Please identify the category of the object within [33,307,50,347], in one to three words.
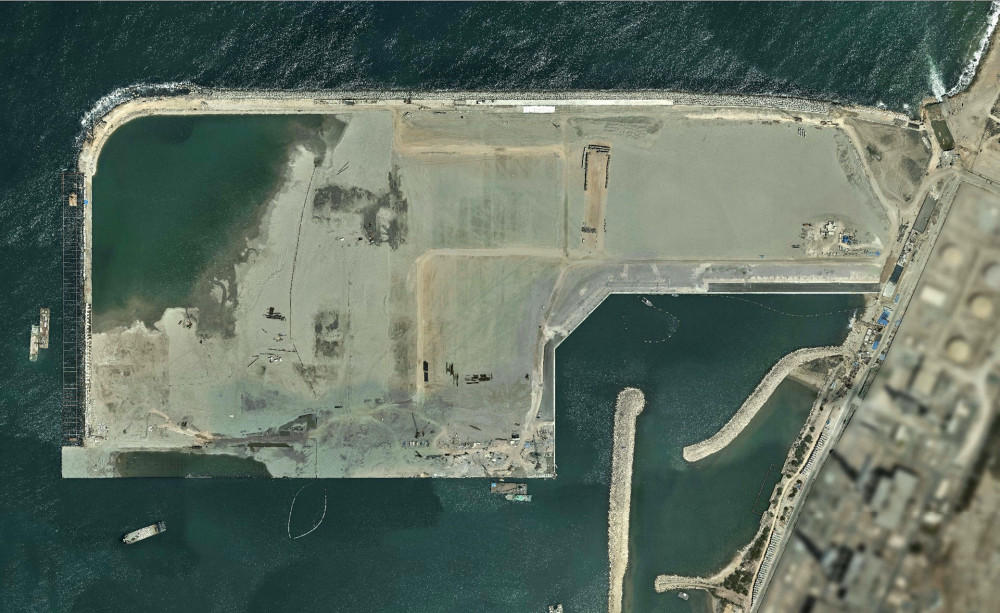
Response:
ship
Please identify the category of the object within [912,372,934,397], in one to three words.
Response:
building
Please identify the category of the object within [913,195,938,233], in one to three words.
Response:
building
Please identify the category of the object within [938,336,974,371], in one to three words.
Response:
storage tank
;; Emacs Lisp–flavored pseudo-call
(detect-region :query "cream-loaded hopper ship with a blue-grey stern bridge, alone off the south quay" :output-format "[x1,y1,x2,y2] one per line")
[123,520,167,543]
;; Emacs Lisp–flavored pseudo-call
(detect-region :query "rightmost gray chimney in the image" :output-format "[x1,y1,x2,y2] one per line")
[918,389,938,413]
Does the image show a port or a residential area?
port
